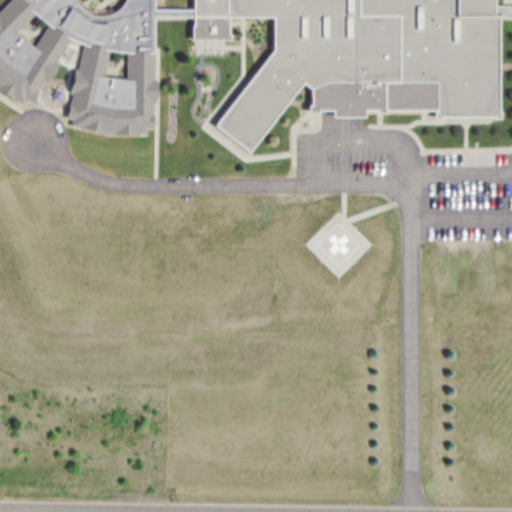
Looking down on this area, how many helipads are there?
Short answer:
1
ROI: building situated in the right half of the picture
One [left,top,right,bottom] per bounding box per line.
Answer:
[195,0,504,154]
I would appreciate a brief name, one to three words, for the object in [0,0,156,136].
house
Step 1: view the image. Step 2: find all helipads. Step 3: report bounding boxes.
[306,212,372,278]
